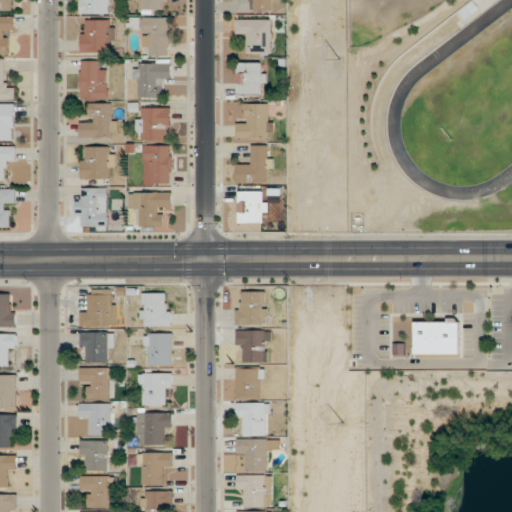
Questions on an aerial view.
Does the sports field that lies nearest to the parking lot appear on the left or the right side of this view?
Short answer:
right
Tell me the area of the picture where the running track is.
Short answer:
top right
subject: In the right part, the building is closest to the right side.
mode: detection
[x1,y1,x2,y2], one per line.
[412,316,460,354]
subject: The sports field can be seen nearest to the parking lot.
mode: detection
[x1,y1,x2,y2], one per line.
[400,10,512,185]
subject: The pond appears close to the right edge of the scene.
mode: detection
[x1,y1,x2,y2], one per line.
[458,448,512,512]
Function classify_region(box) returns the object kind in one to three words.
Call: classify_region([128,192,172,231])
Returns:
house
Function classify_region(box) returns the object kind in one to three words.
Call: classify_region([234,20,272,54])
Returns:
house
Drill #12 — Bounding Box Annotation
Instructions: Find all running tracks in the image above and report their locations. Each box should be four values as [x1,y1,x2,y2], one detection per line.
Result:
[385,0,512,200]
